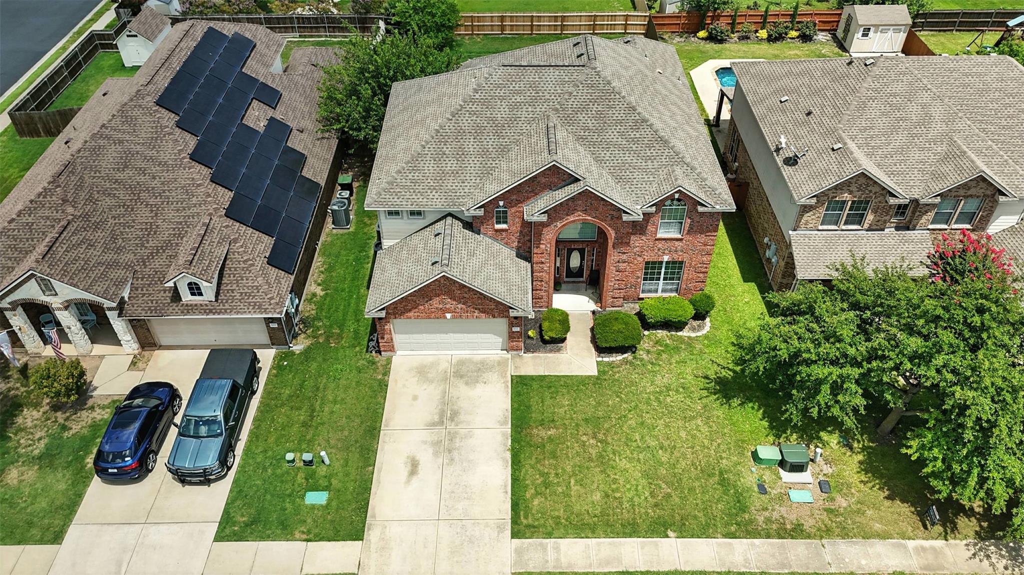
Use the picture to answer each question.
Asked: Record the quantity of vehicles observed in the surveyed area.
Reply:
2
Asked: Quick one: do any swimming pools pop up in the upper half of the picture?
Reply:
Yes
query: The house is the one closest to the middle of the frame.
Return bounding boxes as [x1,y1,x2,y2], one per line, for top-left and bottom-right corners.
[363,34,738,359]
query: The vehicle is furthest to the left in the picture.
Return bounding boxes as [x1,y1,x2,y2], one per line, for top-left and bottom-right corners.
[92,382,180,482]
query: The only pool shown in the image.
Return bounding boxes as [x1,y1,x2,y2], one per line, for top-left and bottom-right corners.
[689,58,822,149]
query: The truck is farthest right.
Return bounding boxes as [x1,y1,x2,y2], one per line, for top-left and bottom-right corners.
[164,345,256,484]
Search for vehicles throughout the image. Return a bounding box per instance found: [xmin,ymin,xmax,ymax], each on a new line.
[92,382,180,482]
[164,345,256,484]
